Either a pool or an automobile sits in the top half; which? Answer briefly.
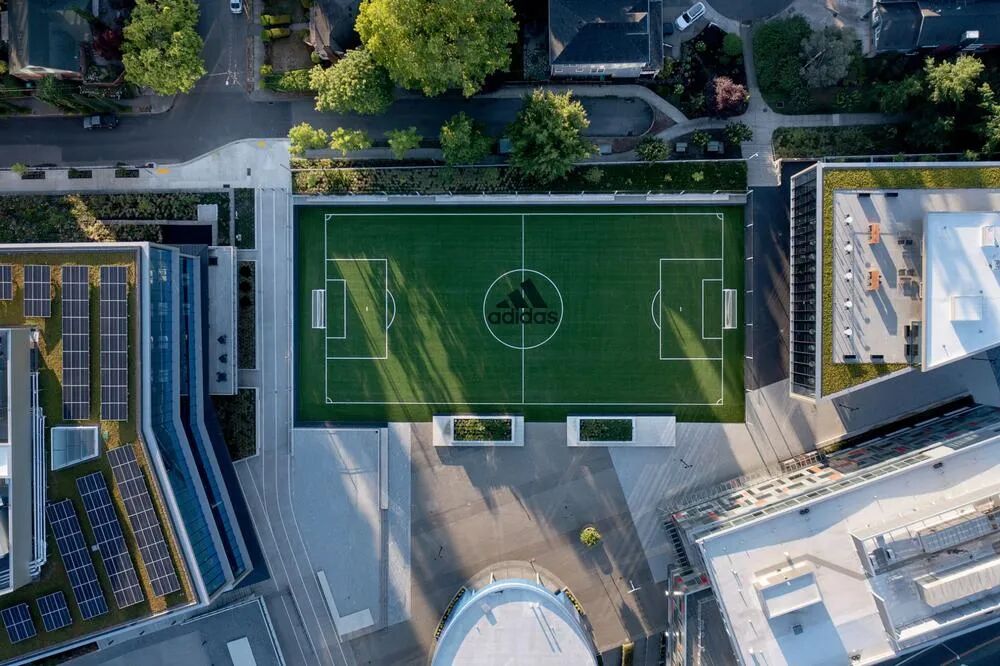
automobile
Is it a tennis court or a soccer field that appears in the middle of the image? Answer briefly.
soccer field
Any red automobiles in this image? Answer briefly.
No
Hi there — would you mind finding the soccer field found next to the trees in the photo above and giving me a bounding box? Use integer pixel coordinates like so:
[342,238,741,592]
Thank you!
[294,205,746,427]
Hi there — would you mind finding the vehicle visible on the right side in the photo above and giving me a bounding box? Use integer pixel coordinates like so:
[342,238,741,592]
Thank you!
[674,1,706,33]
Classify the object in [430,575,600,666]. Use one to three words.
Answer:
building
